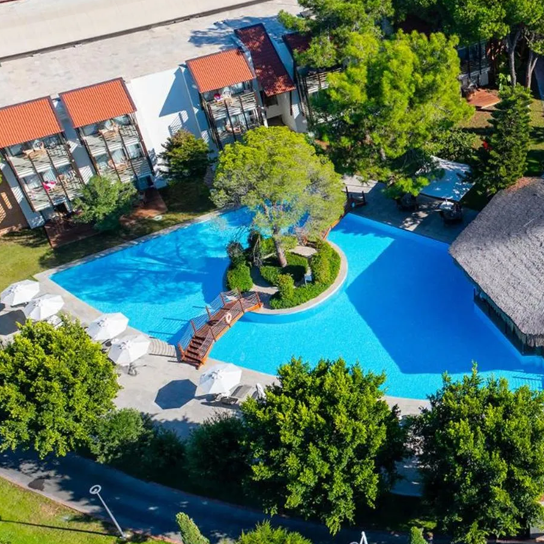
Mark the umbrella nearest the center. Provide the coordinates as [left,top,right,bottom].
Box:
[198,367,243,407]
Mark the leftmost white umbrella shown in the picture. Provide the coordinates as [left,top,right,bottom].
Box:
[0,284,44,311]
